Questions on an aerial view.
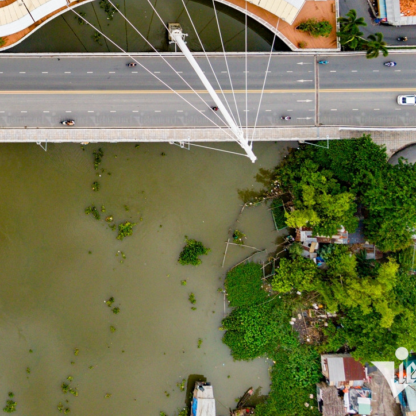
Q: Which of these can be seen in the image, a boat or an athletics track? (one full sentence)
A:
There is a boat in the scene.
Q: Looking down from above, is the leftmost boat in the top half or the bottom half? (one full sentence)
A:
The bottom half of the photo is where the leftmost boat is.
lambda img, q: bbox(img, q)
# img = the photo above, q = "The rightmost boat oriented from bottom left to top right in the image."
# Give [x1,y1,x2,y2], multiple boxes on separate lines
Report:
[237,388,253,410]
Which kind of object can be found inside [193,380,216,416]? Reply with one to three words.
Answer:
boat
